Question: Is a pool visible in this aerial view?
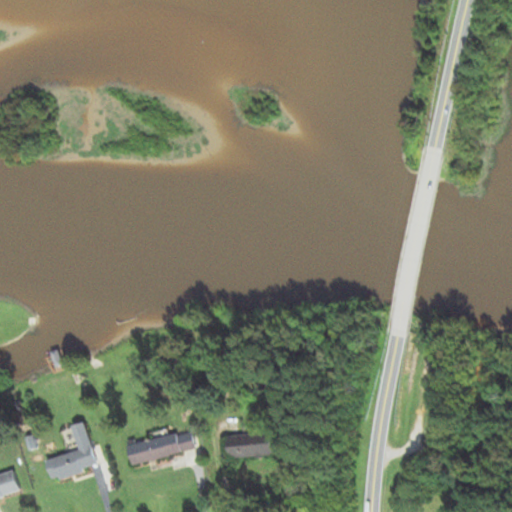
No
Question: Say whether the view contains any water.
Yes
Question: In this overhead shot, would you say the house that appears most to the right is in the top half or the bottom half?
bottom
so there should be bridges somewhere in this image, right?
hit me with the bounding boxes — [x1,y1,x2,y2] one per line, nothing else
[390,146,444,336]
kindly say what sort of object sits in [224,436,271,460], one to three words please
house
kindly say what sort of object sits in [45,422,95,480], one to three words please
house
